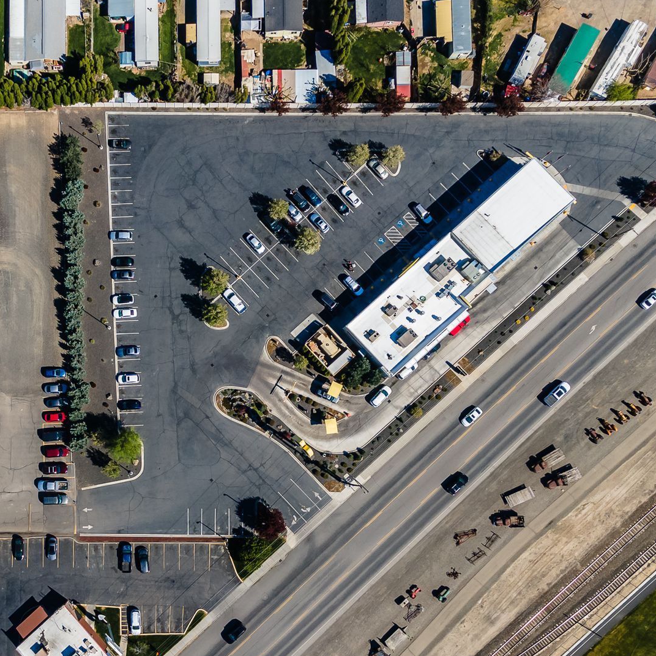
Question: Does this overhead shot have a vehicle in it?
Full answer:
Yes, a vehicle appears in the view.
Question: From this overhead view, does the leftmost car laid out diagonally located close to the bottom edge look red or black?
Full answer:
In this view, the leftmost car laid out diagonally located close to the bottom edge is black.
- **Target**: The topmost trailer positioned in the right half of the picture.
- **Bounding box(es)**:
[502,33,547,89]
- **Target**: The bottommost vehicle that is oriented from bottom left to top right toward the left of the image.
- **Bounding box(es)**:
[221,619,247,643]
